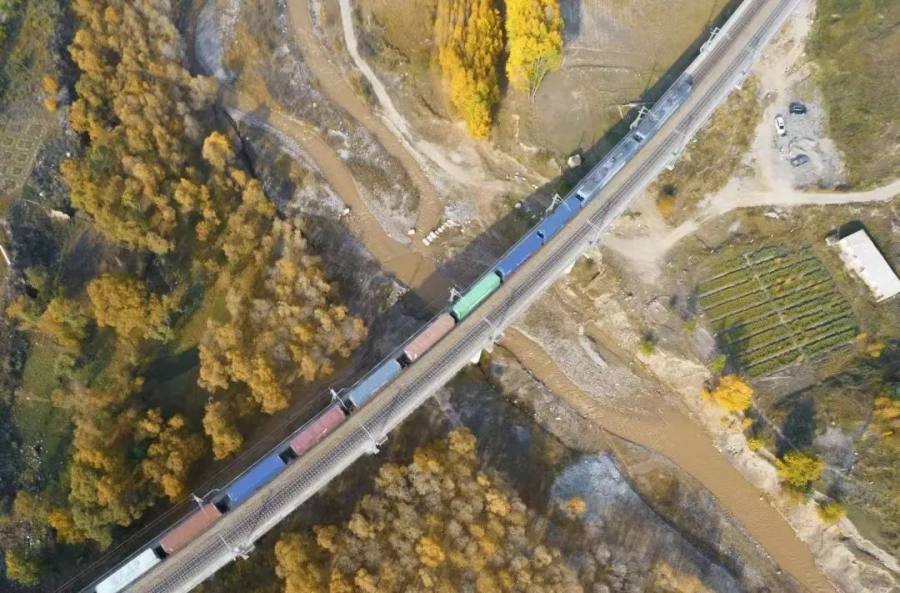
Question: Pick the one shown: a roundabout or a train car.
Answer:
train car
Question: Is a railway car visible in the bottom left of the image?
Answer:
Yes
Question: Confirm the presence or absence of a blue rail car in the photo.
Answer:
Yes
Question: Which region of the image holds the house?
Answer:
right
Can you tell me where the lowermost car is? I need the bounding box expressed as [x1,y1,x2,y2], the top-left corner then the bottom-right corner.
[788,154,810,169]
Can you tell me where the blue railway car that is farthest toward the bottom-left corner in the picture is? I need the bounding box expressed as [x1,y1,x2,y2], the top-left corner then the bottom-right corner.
[223,448,291,505]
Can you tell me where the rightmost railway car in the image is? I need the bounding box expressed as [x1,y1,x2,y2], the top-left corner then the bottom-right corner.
[633,78,695,148]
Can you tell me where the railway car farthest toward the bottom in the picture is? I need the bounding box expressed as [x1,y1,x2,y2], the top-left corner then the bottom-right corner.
[85,544,166,593]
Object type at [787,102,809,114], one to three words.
vehicle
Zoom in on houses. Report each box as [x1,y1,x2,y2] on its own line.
[836,231,900,301]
